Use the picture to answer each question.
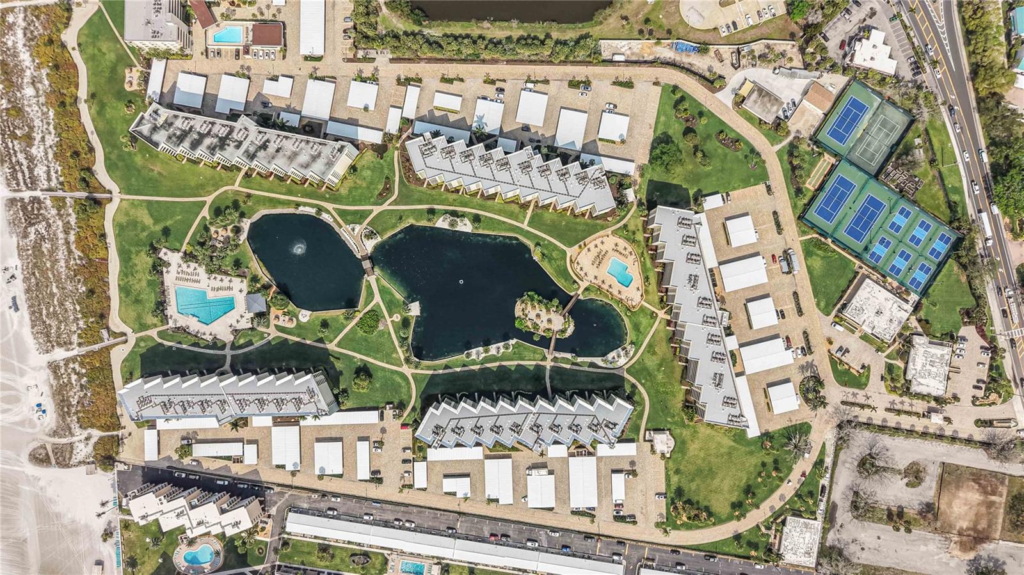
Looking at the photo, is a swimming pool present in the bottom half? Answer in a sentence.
Yes, a swimming pool shows up in the bottom half.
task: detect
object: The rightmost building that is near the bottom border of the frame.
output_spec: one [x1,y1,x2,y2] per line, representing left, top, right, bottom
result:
[777,515,821,567]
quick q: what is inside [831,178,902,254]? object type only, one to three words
tennis court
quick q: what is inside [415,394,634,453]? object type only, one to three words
building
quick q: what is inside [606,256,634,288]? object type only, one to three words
swimming pool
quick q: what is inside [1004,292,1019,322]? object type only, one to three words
vehicle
